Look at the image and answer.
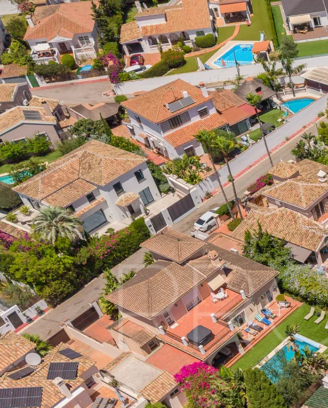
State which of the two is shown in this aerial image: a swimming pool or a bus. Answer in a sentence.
I can see a swimming pool in this picture.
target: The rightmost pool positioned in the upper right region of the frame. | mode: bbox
[279,96,317,116]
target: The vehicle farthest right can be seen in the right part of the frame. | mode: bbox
[190,205,223,229]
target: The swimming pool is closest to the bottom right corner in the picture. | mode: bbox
[257,332,327,389]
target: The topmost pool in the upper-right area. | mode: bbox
[204,41,273,67]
